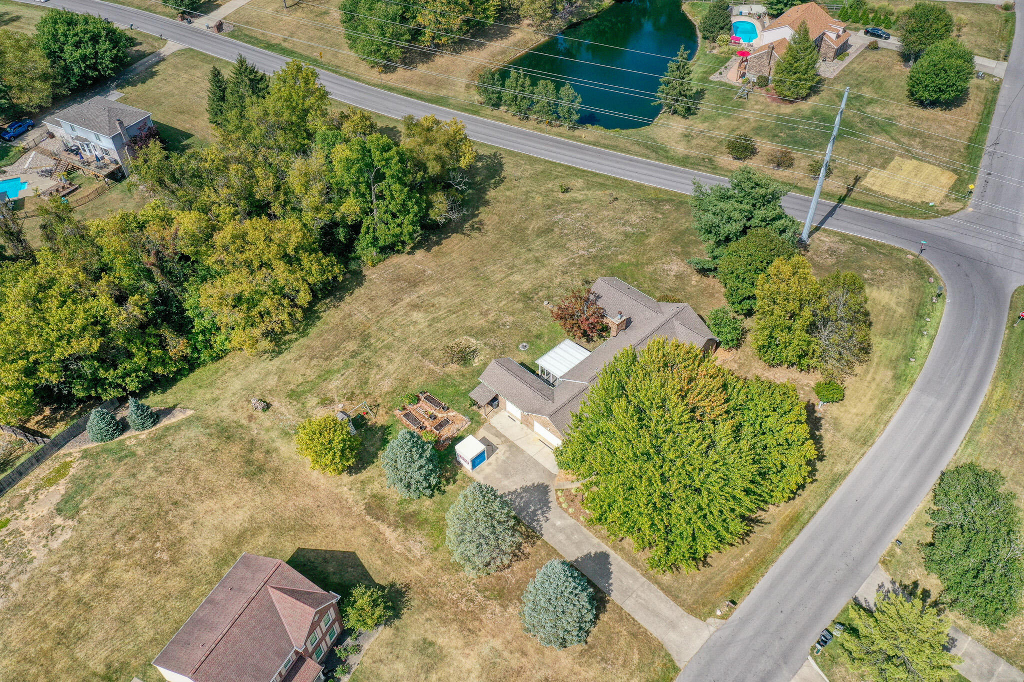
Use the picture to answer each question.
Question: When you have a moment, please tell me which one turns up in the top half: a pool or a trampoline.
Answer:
pool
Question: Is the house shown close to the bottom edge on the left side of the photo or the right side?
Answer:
left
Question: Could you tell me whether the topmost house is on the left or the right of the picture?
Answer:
right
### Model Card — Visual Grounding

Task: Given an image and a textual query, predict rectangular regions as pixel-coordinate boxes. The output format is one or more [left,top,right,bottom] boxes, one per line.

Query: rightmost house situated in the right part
[742,0,856,82]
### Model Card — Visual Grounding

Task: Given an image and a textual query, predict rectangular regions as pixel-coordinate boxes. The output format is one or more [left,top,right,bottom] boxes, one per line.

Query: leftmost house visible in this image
[41,96,162,187]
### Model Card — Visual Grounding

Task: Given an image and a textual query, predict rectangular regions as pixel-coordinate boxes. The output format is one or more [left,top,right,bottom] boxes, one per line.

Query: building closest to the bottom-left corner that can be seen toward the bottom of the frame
[150,551,343,682]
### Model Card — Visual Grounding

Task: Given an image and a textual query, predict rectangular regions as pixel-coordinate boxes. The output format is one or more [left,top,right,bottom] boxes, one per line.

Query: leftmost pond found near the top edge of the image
[487,0,699,130]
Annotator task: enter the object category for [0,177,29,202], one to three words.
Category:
swimming pool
